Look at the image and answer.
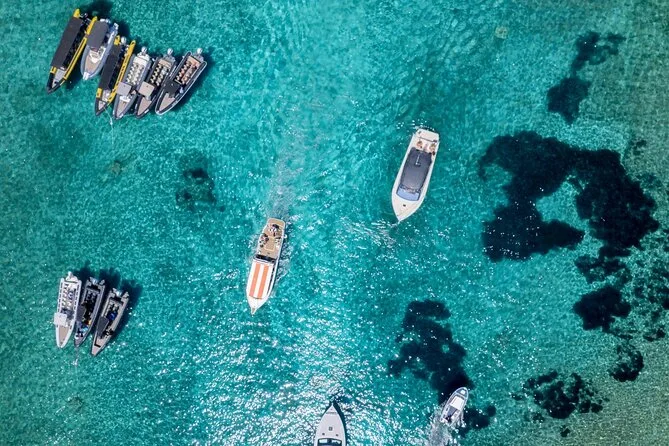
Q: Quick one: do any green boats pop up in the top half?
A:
No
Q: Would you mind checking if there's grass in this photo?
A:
No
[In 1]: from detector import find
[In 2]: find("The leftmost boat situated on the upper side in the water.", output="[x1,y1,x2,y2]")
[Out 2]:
[48,8,96,92]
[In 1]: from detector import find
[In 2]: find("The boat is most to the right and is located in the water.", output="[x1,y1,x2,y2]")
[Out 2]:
[440,387,468,426]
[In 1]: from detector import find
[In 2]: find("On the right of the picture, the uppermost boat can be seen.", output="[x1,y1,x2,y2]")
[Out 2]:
[393,128,438,221]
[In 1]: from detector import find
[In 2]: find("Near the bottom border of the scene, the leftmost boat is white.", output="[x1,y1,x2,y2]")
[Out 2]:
[315,402,348,446]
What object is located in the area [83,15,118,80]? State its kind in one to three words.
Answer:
boat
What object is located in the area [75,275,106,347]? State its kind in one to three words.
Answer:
boat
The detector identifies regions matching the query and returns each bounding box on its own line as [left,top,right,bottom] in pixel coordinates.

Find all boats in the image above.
[92,285,131,355]
[315,402,348,446]
[440,387,468,426]
[83,15,118,80]
[137,52,174,117]
[75,275,106,347]
[54,272,83,347]
[95,33,134,115]
[247,216,286,315]
[113,50,150,117]
[393,128,438,221]
[48,8,96,92]
[156,51,206,114]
